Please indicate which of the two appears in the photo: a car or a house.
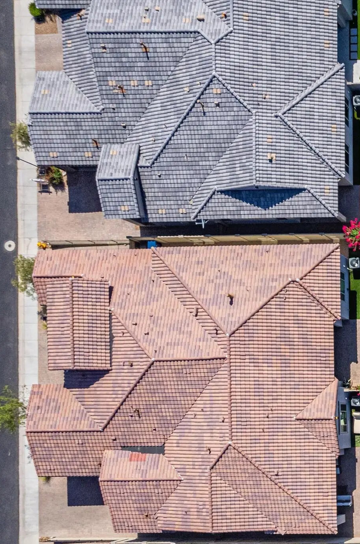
house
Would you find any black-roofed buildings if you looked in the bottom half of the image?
No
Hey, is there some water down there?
No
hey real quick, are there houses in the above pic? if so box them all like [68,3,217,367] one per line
[24,242,348,535]
[27,0,352,222]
